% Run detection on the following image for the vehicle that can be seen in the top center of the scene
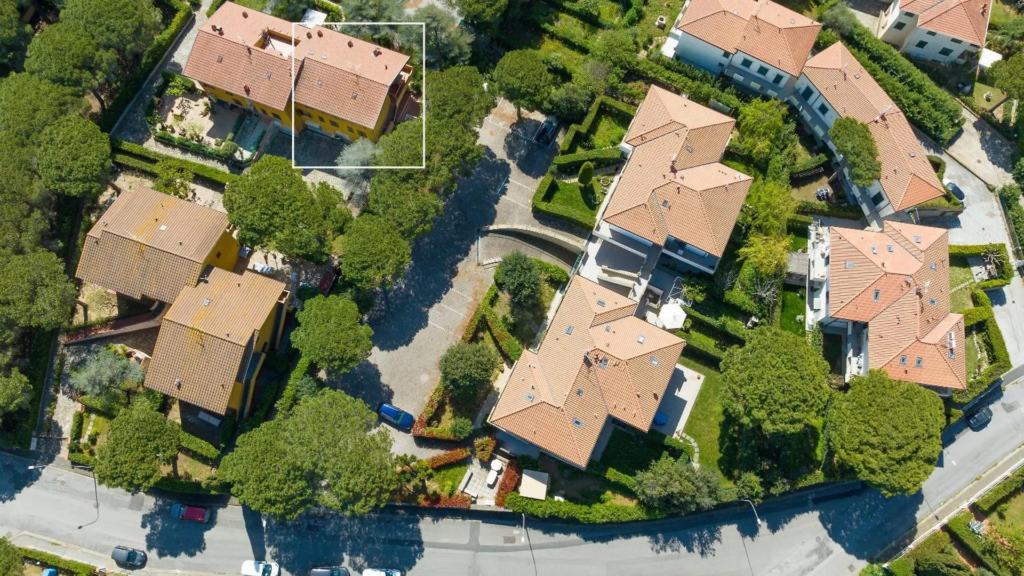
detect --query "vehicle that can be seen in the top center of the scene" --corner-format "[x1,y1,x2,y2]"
[534,114,560,150]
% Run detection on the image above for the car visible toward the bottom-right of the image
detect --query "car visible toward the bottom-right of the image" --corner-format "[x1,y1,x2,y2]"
[962,407,995,431]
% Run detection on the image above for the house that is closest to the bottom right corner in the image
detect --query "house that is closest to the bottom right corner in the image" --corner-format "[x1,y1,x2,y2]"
[802,219,967,395]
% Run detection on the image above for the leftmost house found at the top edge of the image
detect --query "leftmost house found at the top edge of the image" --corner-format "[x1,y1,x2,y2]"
[182,0,314,133]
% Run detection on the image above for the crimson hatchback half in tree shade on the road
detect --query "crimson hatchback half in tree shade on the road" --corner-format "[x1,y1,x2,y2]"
[172,503,211,523]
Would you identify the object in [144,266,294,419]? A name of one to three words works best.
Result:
house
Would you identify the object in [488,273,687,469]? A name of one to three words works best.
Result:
house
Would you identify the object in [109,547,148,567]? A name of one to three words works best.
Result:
car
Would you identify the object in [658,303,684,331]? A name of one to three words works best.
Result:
umbrella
